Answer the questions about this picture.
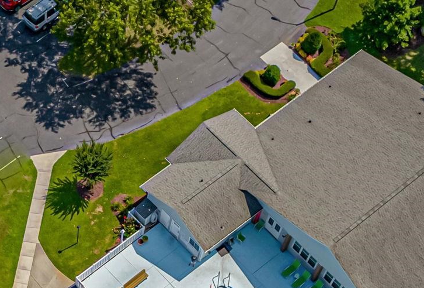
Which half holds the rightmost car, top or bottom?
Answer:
top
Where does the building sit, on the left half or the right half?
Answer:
right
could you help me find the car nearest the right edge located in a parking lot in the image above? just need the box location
[25,0,71,33]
